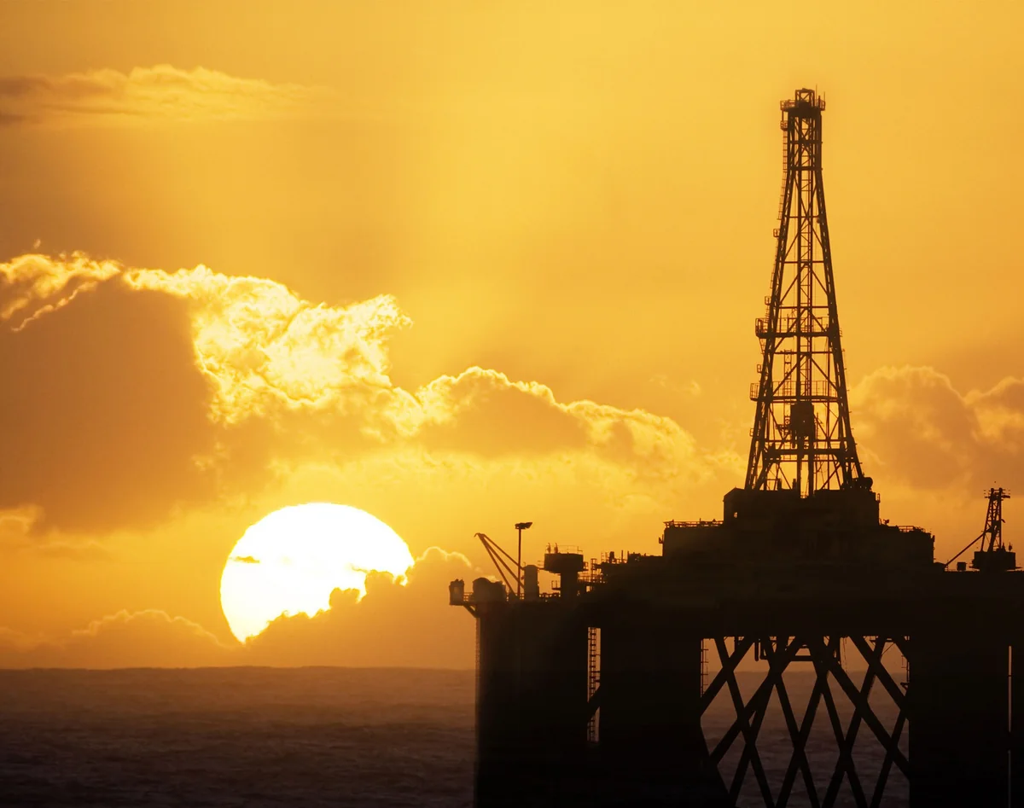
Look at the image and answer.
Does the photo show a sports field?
No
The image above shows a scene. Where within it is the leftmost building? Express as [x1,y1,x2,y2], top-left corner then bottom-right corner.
[450,579,464,602]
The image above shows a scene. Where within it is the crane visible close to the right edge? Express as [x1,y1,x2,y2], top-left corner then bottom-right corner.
[944,488,1017,571]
